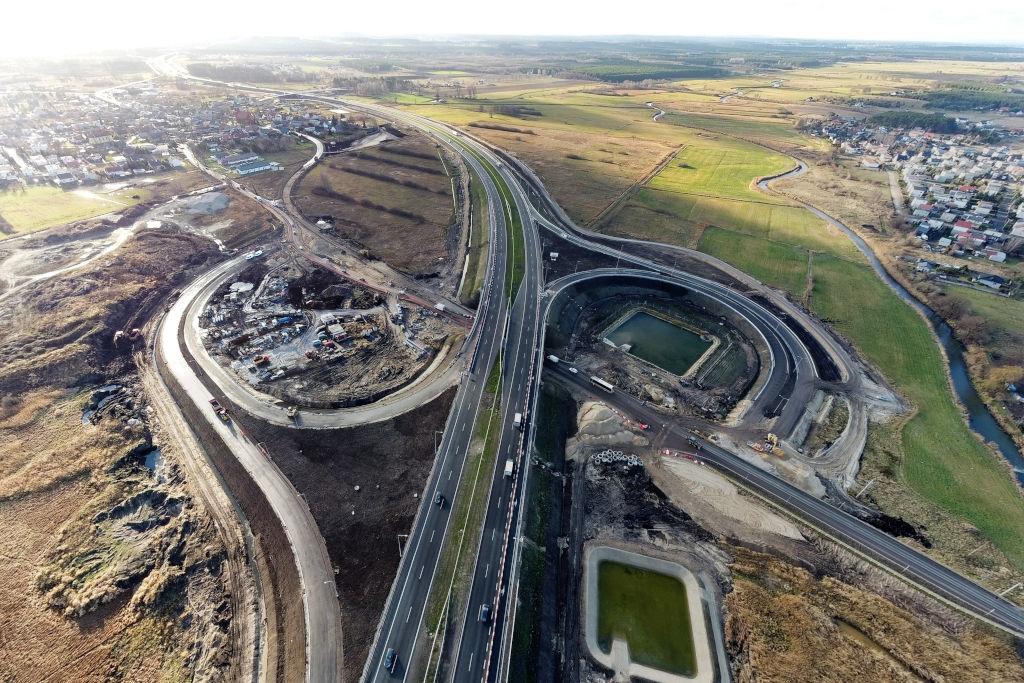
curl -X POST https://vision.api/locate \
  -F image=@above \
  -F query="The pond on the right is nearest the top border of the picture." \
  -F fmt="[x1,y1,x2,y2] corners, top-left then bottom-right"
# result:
[609,314,708,374]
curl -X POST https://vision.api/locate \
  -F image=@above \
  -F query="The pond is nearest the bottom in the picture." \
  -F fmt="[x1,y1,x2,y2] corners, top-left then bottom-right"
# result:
[598,560,697,677]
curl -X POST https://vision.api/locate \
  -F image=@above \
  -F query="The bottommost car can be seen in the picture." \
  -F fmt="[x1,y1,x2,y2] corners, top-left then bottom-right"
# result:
[383,648,395,671]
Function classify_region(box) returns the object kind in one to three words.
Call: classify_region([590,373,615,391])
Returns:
vehicle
